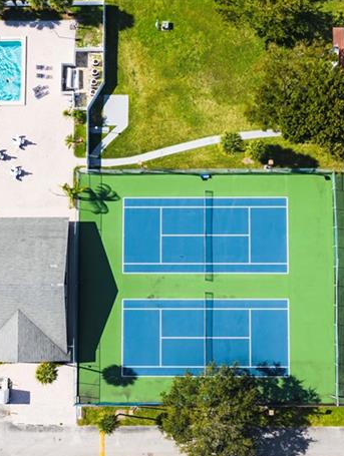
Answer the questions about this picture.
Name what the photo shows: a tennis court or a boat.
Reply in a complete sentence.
I can see a tennis court in this picture.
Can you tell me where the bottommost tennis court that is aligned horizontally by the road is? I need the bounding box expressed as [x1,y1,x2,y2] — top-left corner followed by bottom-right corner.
[77,286,333,404]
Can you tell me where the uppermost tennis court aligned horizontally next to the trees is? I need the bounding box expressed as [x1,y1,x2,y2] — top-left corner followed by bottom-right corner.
[78,171,332,286]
